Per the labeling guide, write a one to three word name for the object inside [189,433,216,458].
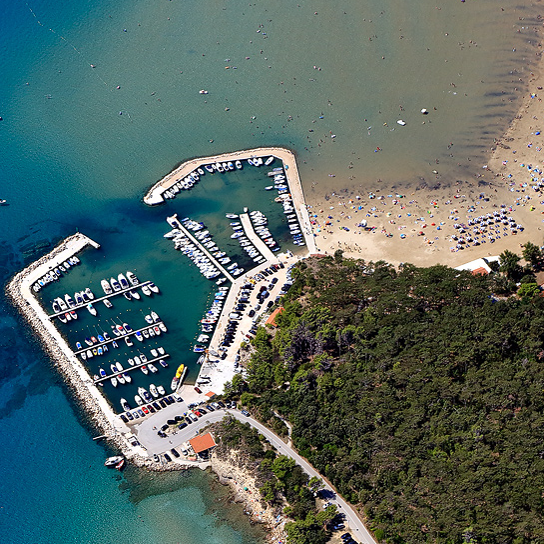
building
